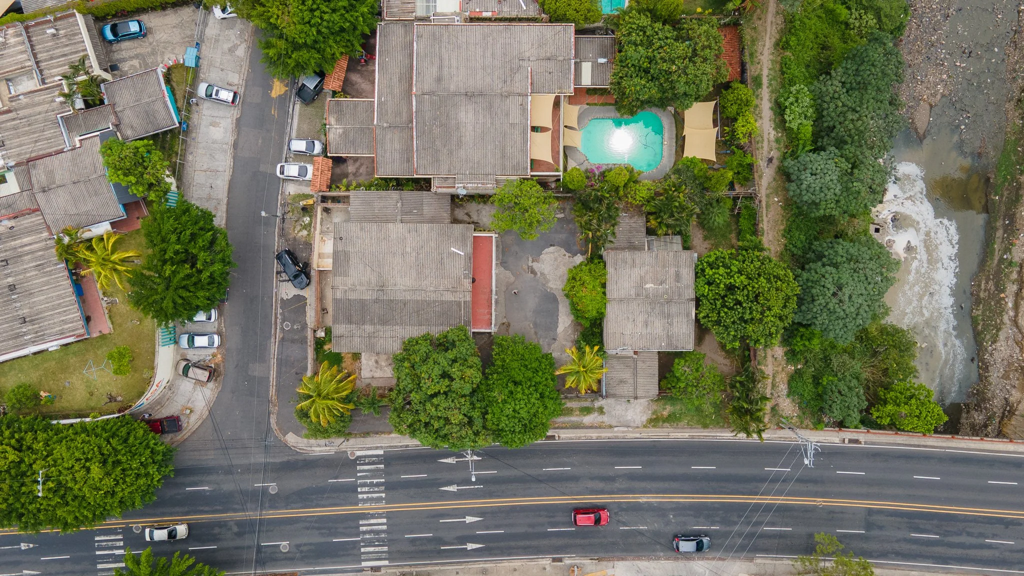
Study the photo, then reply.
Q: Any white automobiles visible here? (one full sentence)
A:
Yes, you can see a white automobile in this photo.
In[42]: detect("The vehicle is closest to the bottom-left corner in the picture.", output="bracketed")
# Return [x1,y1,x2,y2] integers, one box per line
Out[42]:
[146,521,190,542]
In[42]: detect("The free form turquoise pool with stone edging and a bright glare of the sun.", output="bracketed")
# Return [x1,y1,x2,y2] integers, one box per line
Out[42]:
[565,106,676,178]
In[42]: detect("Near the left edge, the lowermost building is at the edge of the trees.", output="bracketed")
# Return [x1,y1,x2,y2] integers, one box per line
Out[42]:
[0,209,96,363]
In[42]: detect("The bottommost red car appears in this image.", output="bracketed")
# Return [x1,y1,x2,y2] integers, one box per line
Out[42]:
[572,506,608,527]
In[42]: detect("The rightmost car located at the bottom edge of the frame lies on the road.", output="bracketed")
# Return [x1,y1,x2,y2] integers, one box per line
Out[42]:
[673,532,709,553]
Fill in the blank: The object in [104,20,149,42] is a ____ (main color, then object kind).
blue car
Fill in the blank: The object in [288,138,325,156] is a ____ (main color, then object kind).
white car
